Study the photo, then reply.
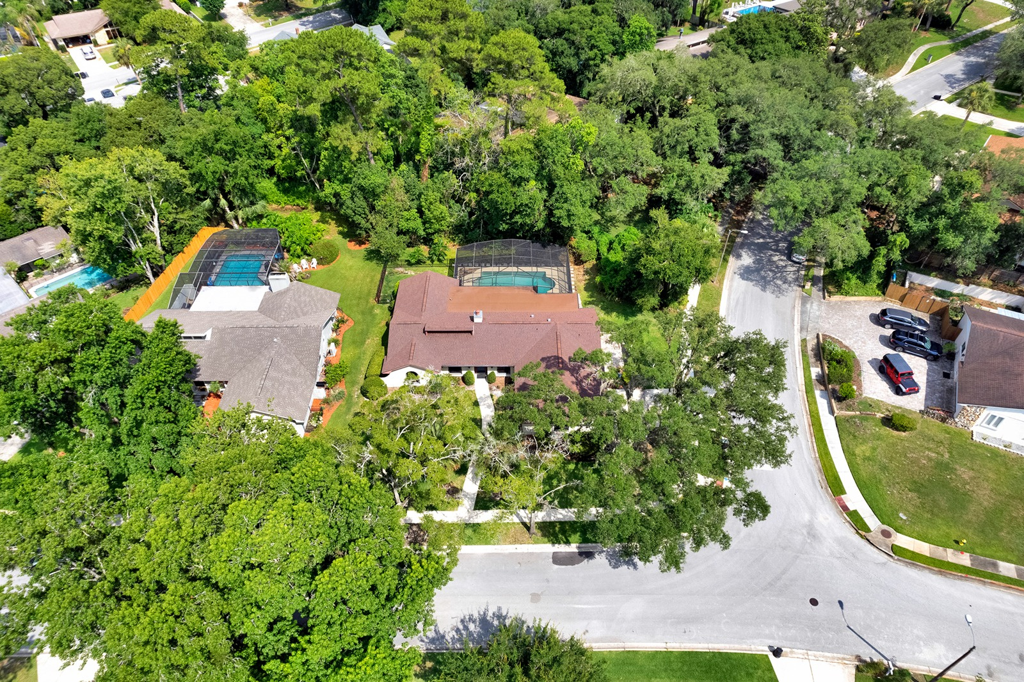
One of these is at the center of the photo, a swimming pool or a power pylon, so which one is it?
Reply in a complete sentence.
Looking at the center of the photo, you will find a swimming pool.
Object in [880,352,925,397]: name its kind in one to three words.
car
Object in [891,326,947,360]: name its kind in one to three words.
car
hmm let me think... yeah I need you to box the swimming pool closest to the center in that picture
[470,270,560,292]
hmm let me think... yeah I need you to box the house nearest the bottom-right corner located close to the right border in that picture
[953,284,1024,447]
